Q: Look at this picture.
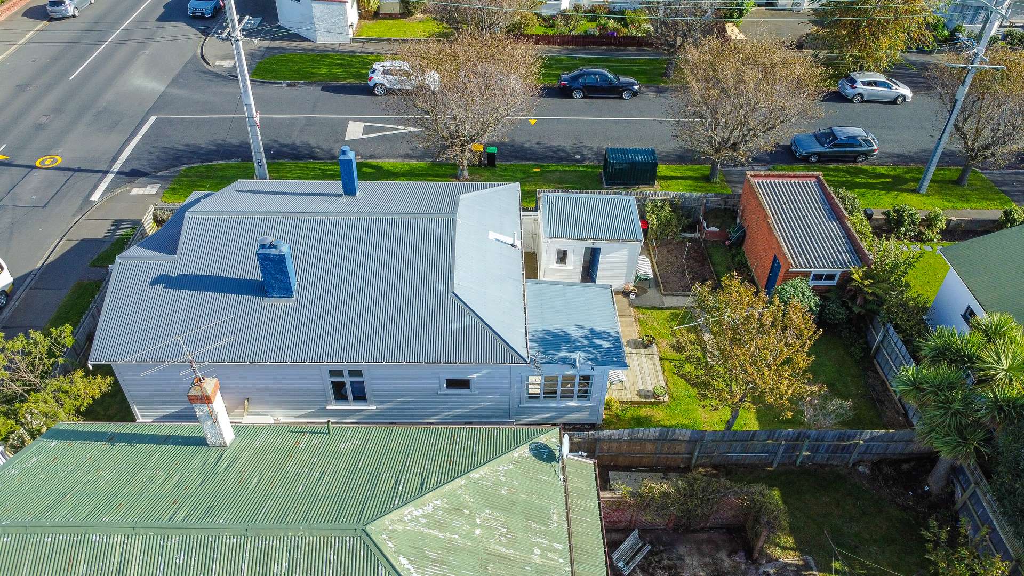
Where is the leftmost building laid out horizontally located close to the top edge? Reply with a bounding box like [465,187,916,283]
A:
[271,0,368,41]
